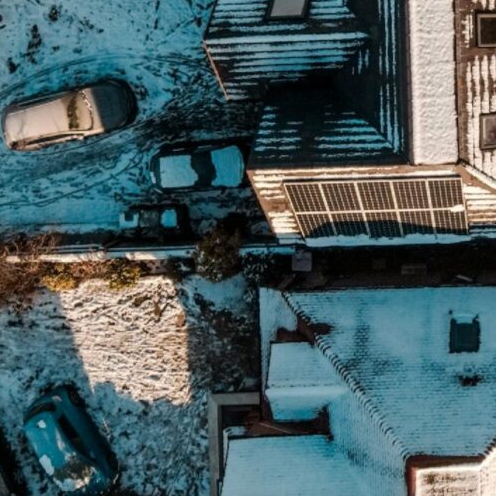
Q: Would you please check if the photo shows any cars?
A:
Yes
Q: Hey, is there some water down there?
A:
No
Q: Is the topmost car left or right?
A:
left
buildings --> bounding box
[199,0,496,245]
[219,246,496,496]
